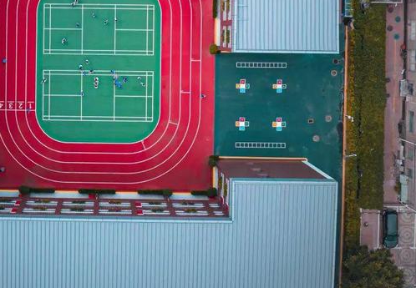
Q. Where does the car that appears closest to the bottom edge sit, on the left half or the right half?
right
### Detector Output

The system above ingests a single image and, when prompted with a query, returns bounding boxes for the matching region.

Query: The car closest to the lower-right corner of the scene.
[383,209,403,250]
